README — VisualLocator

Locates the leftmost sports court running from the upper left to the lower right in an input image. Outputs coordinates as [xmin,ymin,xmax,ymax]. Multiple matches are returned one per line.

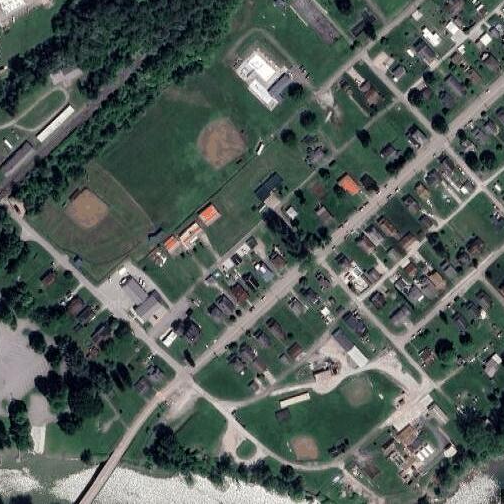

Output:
[292,0,340,46]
